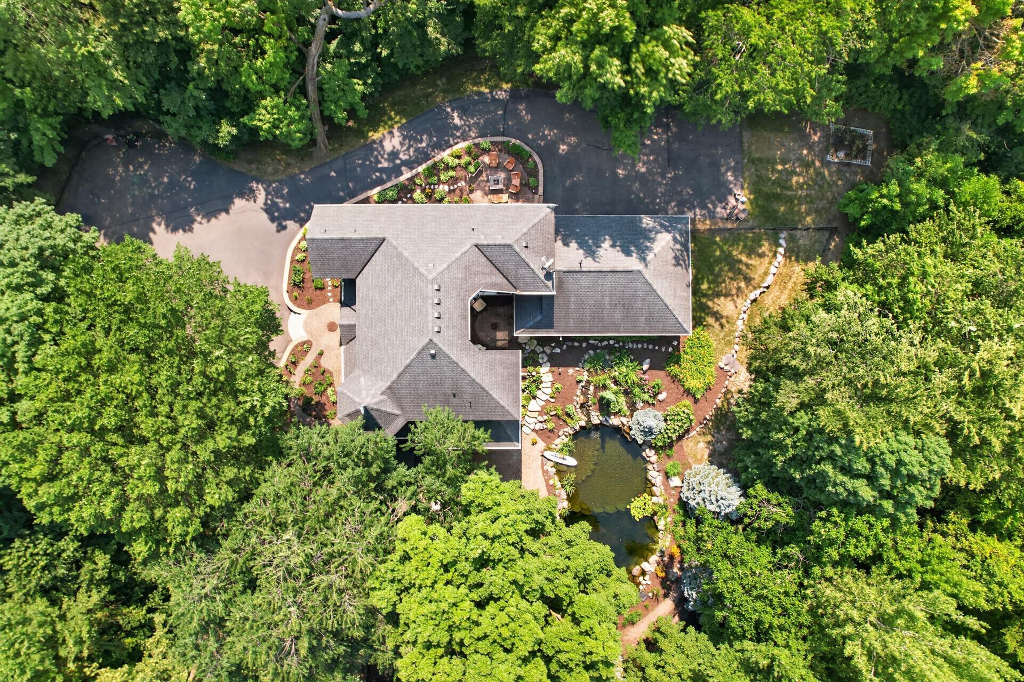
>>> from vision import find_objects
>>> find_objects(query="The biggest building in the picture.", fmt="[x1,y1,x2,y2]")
[305,202,692,449]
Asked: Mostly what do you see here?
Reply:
trees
